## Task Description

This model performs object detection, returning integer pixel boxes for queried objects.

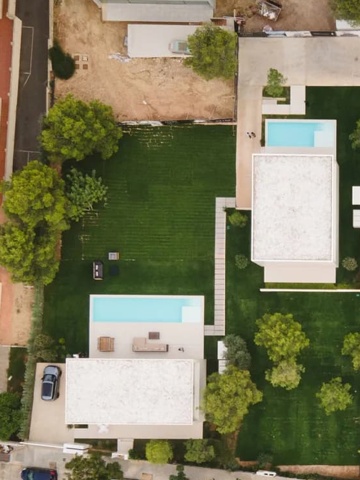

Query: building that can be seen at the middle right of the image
[252,155,341,267]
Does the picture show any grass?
Yes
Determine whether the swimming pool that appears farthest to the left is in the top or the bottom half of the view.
bottom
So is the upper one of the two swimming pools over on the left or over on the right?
right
